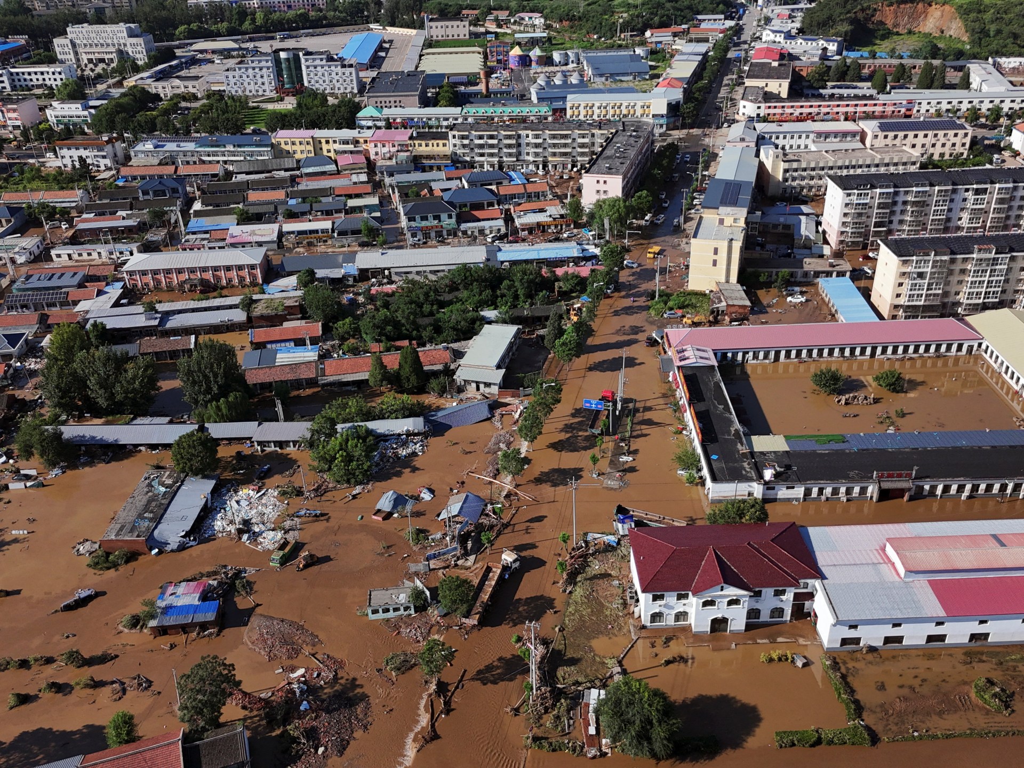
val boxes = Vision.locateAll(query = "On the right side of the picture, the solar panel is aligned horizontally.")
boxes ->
[877,118,965,131]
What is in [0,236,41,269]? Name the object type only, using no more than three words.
house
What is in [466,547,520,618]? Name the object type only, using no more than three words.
truck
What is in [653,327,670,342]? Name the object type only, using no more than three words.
vehicle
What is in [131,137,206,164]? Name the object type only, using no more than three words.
building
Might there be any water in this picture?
Yes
